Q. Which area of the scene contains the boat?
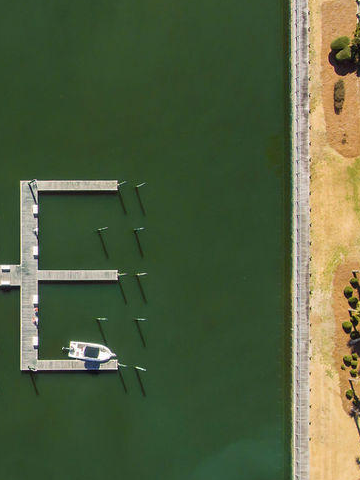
bottom left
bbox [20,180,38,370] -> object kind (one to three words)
pier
